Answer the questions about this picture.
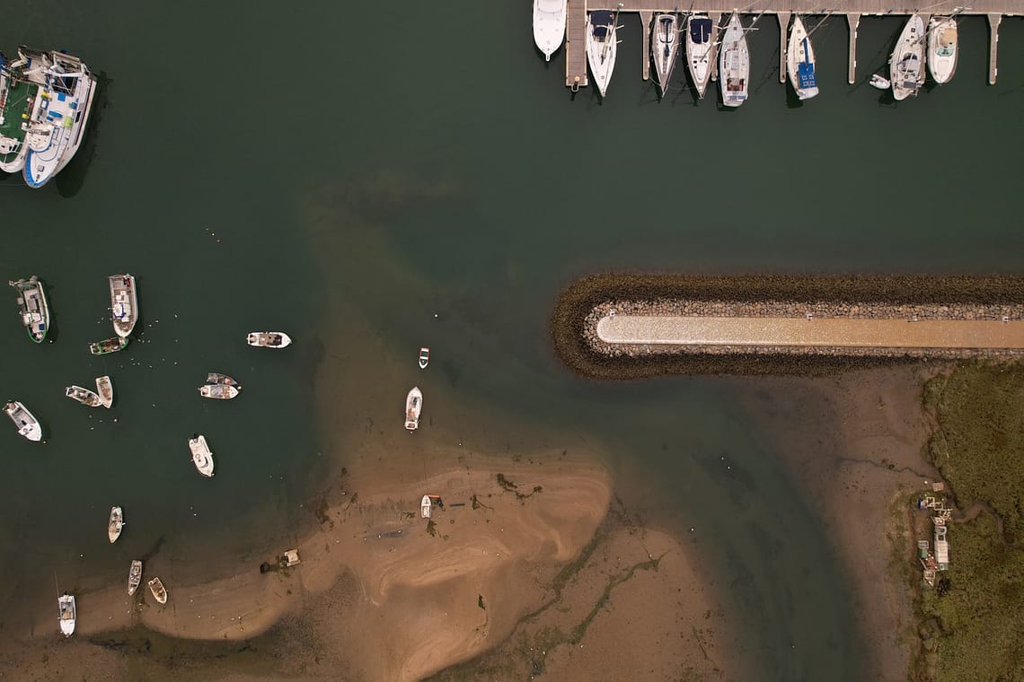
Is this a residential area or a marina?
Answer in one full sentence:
This looks like a marina.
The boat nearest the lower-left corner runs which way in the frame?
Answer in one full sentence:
In this picture, the boat nearest the lower-left corner lies up and down.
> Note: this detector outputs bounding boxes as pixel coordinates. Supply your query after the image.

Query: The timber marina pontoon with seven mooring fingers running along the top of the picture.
[566,0,1024,92]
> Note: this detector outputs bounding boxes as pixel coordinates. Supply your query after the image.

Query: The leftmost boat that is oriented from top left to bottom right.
[2,401,43,441]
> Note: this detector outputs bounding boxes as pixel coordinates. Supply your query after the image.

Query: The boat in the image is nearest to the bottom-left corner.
[54,566,77,637]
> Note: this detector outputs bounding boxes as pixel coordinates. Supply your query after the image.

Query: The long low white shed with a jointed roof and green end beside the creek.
[928,539,948,569]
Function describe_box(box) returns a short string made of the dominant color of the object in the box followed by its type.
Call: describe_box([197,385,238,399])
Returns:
white boat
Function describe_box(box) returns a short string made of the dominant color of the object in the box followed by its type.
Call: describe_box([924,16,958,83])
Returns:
white boat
